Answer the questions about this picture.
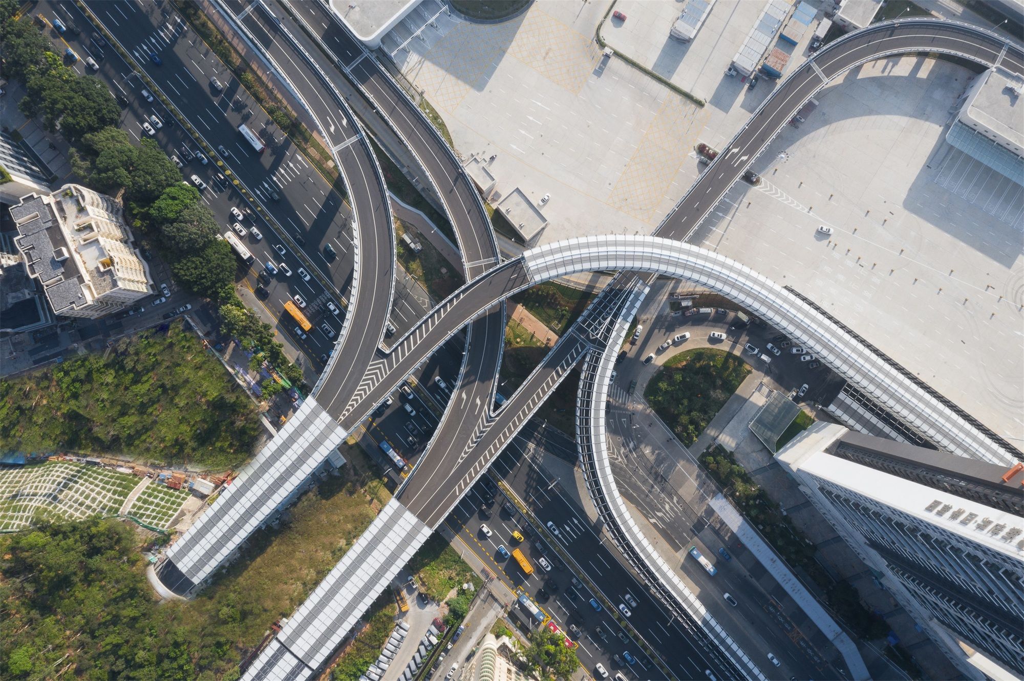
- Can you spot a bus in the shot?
Yes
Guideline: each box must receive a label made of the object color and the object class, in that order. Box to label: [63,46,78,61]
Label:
blue car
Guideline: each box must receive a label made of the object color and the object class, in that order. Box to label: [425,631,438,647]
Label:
white vehicle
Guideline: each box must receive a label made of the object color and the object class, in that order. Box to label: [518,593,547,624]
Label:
white bus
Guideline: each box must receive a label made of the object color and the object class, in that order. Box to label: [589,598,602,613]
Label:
blue vehicle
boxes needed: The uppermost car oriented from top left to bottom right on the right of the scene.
[612,8,628,21]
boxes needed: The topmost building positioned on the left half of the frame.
[329,0,441,60]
